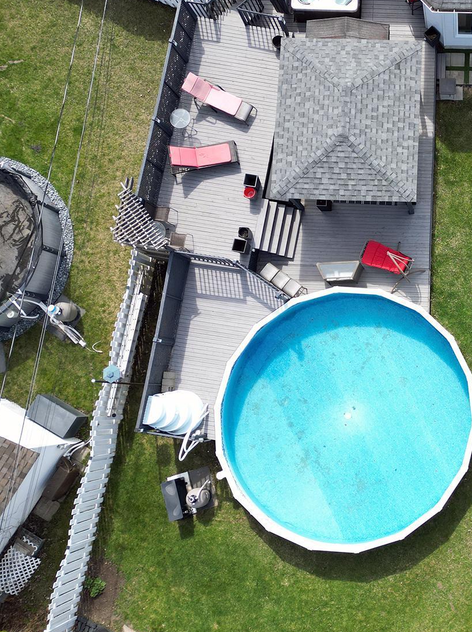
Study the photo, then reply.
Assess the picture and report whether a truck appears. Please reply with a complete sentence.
No, no truck is visible in the scene.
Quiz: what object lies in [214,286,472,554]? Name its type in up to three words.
swimming pool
